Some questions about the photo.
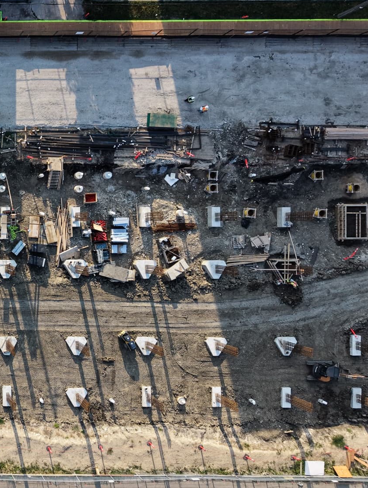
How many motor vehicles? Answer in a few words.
two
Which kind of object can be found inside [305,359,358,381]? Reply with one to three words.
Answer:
work vehicle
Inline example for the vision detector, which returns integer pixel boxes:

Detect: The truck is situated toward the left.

[114,326,138,353]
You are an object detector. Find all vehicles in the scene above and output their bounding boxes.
[305,359,358,381]
[114,326,138,353]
